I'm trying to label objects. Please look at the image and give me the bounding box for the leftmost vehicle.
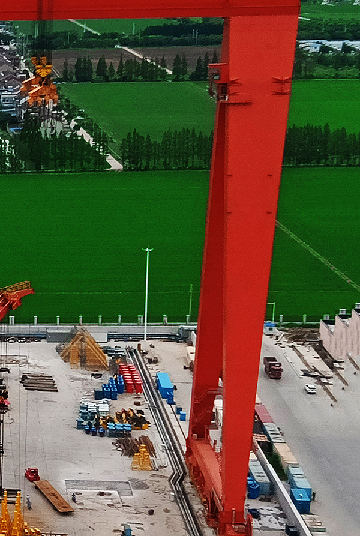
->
[22,459,74,511]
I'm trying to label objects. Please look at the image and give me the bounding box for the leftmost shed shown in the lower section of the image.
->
[47,325,72,342]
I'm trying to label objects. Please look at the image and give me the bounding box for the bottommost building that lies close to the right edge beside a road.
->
[320,305,360,381]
